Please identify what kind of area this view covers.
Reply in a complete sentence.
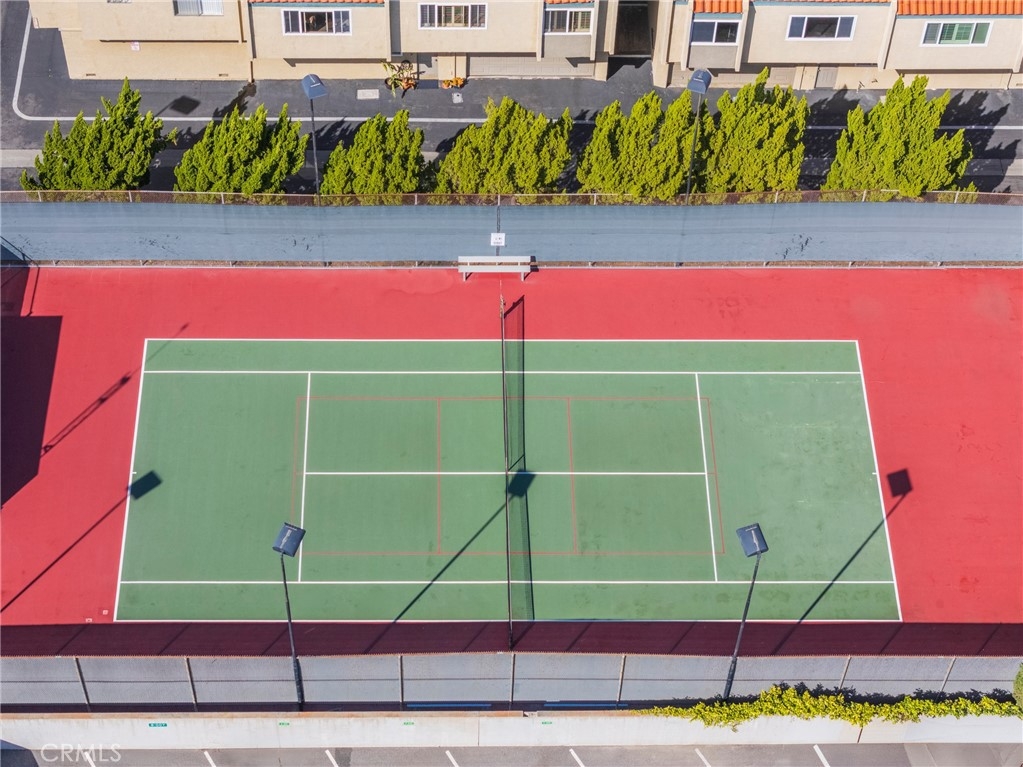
The picture captures a sports ground.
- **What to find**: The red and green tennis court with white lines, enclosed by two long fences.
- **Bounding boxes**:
[0,268,1023,712]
